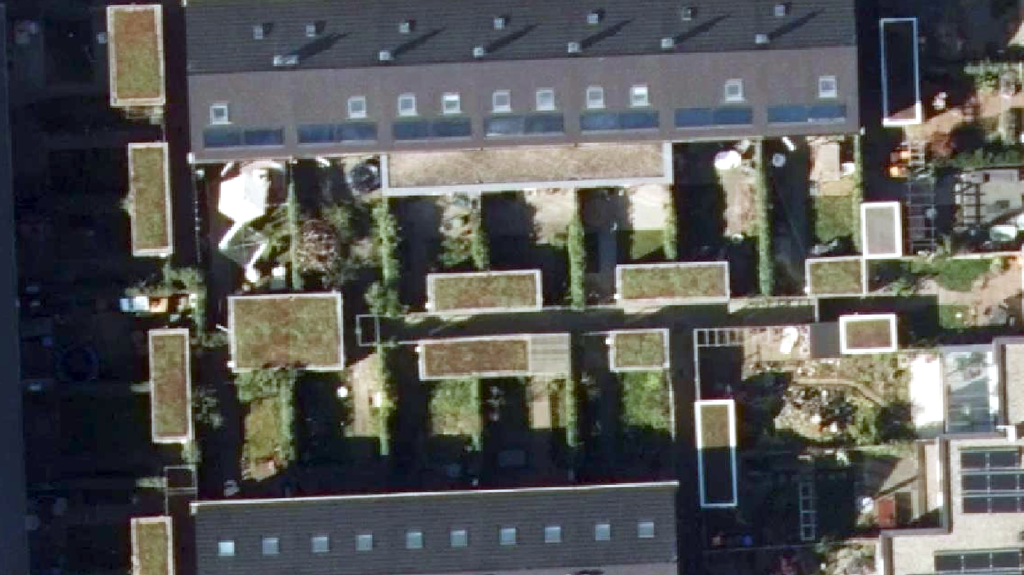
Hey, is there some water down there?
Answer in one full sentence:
No, there's no water in this view.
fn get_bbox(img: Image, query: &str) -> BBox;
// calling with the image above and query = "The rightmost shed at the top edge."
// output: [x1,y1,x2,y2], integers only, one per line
[881,18,921,124]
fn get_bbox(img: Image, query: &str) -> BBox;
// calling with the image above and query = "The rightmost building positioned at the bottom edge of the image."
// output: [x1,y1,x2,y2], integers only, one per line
[876,439,1024,575]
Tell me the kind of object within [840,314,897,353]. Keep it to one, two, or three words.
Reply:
shed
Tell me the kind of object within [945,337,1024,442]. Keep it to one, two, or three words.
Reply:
house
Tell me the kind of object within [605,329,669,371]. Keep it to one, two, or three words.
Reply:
shed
